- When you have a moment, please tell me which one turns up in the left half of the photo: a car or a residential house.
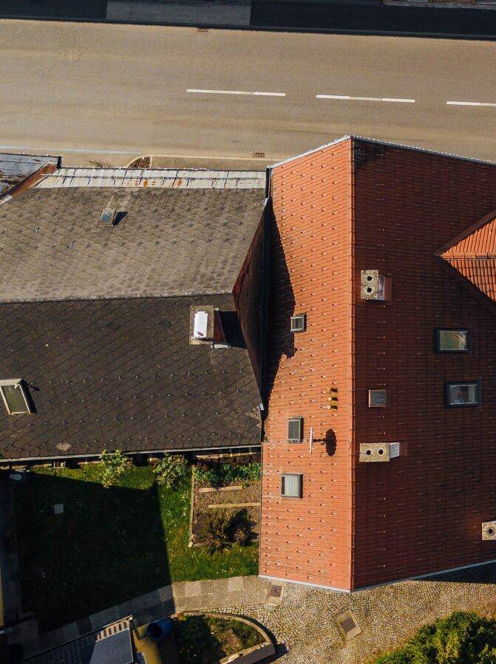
residential house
